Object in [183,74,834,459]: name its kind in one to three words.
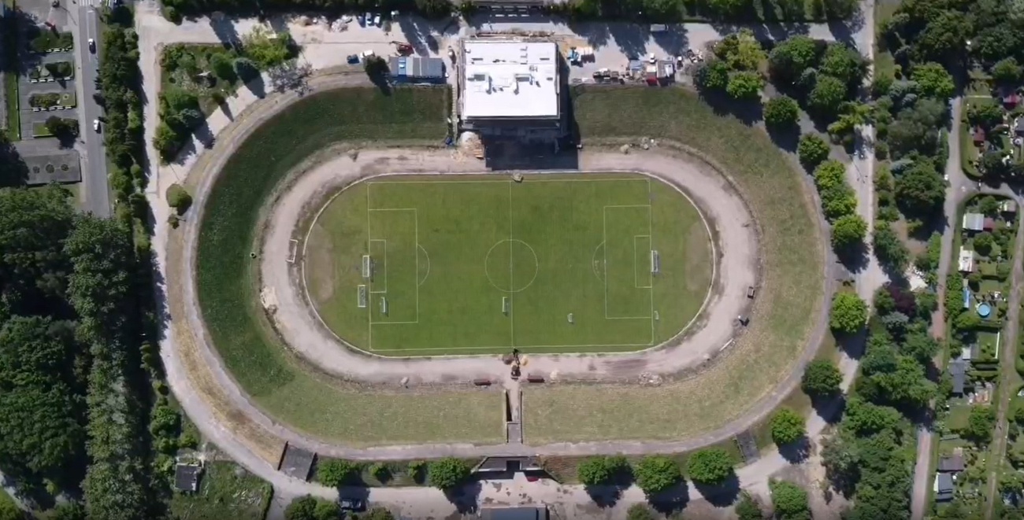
stadium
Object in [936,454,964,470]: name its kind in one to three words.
shed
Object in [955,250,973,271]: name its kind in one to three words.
shed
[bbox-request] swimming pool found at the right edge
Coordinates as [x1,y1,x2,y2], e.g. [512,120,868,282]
[975,304,992,318]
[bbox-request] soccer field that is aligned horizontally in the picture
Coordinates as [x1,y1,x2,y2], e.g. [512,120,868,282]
[304,172,714,358]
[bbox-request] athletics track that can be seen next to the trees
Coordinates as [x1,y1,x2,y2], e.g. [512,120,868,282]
[260,146,761,387]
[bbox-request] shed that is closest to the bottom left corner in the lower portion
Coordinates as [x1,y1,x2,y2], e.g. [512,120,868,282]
[174,462,201,492]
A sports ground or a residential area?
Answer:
sports ground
